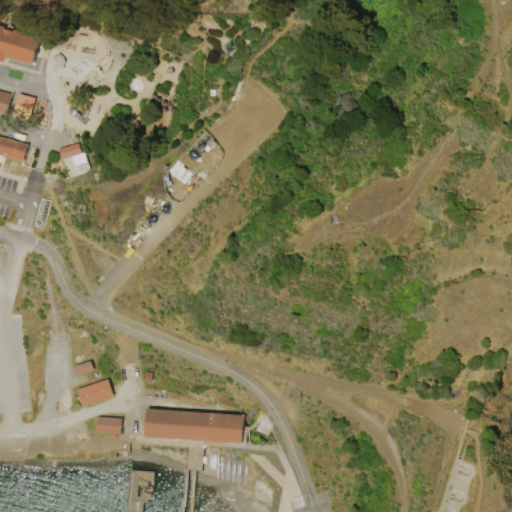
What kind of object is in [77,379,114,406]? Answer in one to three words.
house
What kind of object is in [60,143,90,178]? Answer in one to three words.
house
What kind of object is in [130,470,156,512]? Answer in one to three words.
pier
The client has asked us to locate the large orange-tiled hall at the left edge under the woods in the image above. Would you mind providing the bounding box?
[0,28,38,64]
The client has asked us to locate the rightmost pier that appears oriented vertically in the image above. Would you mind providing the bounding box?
[182,446,204,512]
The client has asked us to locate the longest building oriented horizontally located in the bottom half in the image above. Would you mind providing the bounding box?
[146,408,245,442]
